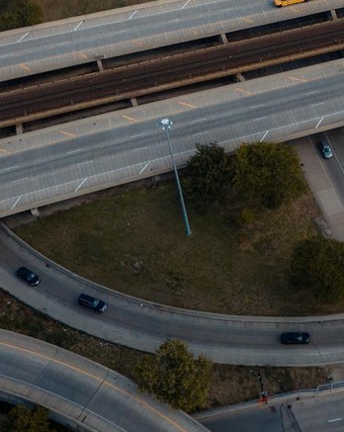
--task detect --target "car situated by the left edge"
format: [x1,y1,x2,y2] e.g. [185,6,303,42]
[16,266,38,285]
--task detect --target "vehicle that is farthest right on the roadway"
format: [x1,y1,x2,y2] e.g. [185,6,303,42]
[320,140,332,158]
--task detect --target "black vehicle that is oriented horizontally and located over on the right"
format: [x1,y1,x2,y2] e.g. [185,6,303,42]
[280,330,310,345]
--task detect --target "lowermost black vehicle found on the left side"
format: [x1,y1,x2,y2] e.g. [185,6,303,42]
[79,294,105,312]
